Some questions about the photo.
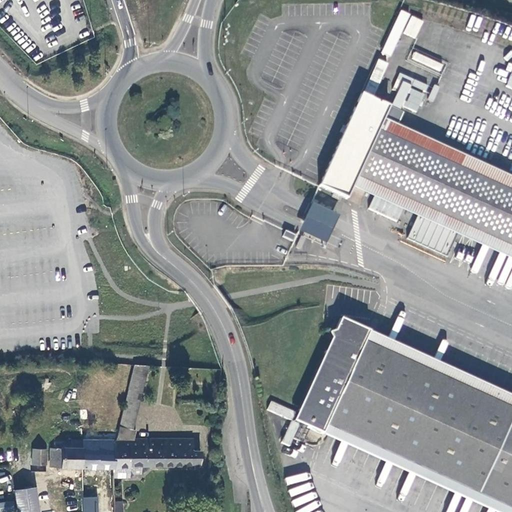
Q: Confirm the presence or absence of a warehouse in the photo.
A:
Yes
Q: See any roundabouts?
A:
Yes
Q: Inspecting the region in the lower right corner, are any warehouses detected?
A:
Yes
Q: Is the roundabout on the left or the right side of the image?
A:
left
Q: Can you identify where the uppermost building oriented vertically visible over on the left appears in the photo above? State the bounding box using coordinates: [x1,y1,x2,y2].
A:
[120,365,149,430]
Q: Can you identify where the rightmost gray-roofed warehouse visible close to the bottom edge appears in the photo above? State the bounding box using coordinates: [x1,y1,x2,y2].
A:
[294,316,512,512]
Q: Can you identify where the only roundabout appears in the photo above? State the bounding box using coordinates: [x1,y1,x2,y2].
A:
[98,54,232,188]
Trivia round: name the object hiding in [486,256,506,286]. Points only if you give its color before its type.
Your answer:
white vehicle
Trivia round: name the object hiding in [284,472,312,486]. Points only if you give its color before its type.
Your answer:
white vehicle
